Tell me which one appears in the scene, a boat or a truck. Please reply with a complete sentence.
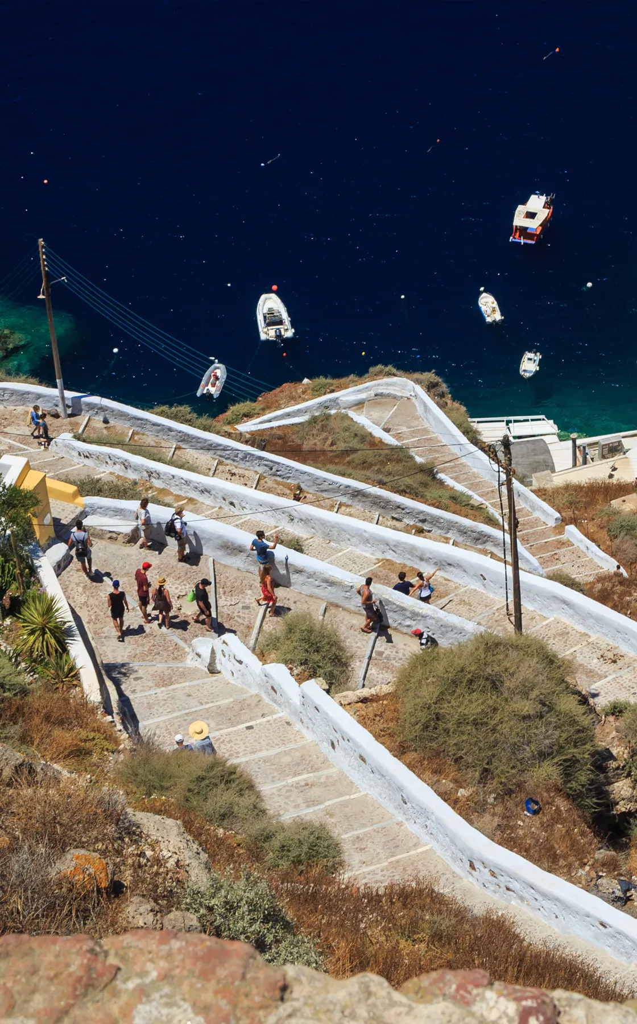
Of the two, only a boat appears.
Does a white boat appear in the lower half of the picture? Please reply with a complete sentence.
No, looking in the lower half of the picture, there is no white boat.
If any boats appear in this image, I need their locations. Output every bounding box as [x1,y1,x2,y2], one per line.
[517,342,548,382]
[477,286,512,329]
[508,181,563,248]
[254,291,297,348]
[196,362,227,403]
